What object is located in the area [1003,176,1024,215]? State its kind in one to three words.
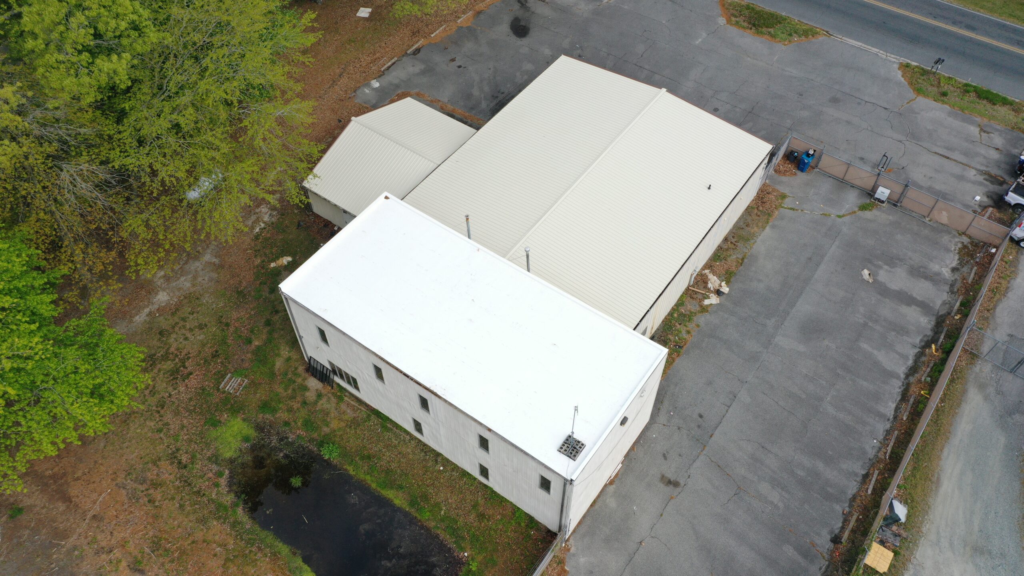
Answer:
truck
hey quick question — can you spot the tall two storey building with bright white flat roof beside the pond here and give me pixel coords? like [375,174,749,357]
[277,191,669,538]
